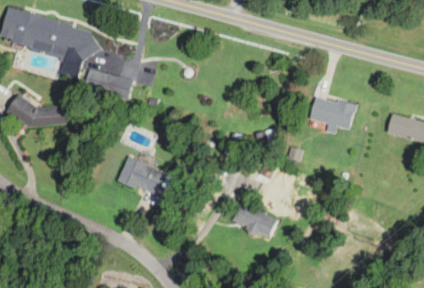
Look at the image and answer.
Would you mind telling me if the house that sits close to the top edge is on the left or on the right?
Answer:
left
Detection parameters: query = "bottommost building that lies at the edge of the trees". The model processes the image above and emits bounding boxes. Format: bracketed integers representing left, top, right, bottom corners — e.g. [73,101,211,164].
[234,208,278,238]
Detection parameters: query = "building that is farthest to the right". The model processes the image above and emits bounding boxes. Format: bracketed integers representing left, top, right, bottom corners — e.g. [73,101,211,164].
[388,114,424,142]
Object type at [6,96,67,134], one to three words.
house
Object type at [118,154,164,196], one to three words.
house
